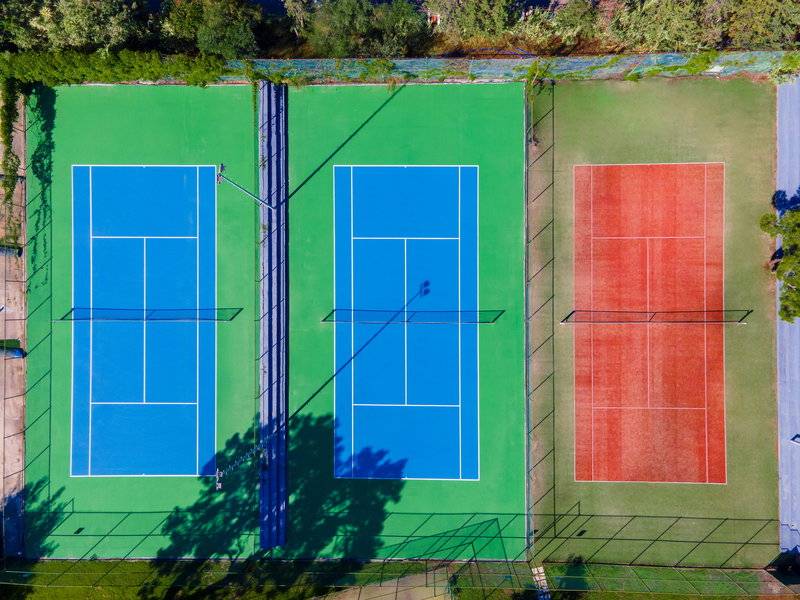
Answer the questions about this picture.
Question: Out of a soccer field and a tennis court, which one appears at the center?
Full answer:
Looking at the center, you will find a tennis court.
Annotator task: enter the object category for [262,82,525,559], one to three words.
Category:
tennis court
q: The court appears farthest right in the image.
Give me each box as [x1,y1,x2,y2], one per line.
[530,80,777,569]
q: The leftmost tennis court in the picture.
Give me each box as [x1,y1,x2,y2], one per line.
[25,86,262,559]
